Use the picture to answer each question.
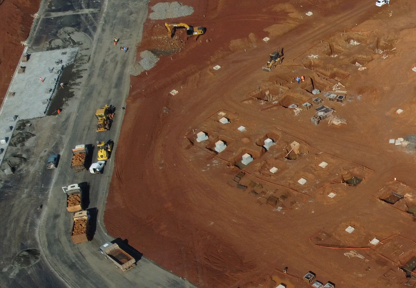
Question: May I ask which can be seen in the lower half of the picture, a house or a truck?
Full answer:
There is a truck in the lower half of the picture.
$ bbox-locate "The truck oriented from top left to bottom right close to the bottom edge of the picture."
[99,240,134,274]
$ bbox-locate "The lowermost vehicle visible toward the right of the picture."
[264,49,285,73]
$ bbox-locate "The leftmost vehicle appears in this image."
[44,155,61,170]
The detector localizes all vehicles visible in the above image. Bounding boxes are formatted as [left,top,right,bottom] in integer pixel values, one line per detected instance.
[44,155,61,170]
[63,182,84,216]
[264,49,285,73]
[375,0,391,7]
[95,141,108,159]
[168,23,207,41]
[70,209,92,246]
[86,159,109,175]
[93,105,113,132]
[69,143,91,175]
[99,240,134,274]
